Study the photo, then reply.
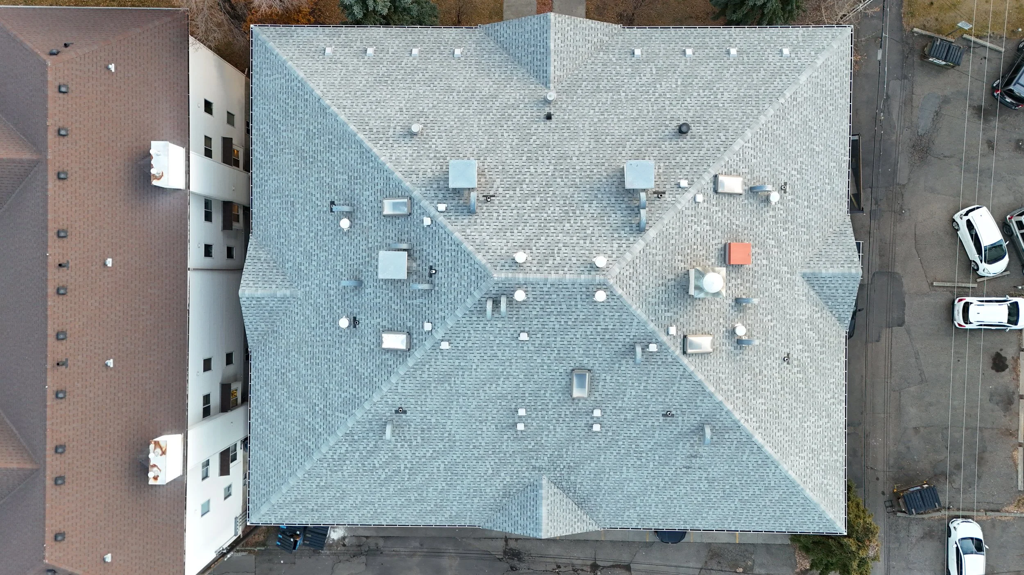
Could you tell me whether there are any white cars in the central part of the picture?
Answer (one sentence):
No, there is no white car in the central part of the picture.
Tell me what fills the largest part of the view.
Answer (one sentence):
For the most part, this view shows buildings.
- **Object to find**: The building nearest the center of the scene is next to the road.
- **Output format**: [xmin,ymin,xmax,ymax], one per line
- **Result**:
[239,11,862,539]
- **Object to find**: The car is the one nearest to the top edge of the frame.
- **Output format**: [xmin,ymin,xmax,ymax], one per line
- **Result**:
[992,39,1024,109]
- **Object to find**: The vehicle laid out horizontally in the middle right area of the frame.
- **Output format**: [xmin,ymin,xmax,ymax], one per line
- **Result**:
[948,295,1024,332]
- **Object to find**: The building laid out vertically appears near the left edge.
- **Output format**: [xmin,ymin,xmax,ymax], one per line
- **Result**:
[0,6,252,575]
